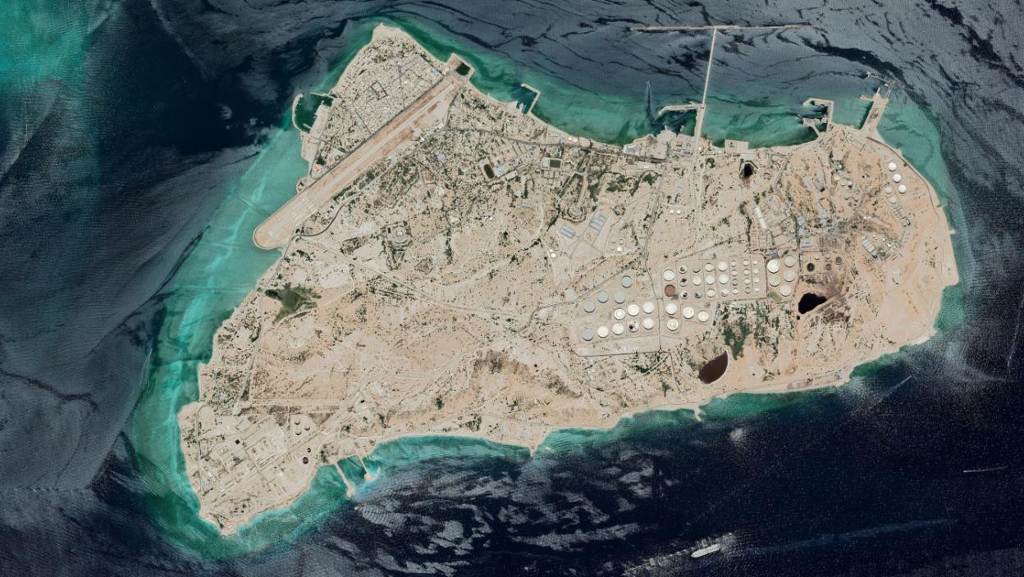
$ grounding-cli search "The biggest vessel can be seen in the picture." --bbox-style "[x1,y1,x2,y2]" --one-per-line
[692,545,720,557]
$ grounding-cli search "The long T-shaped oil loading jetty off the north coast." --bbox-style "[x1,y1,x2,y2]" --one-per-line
[629,25,812,109]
